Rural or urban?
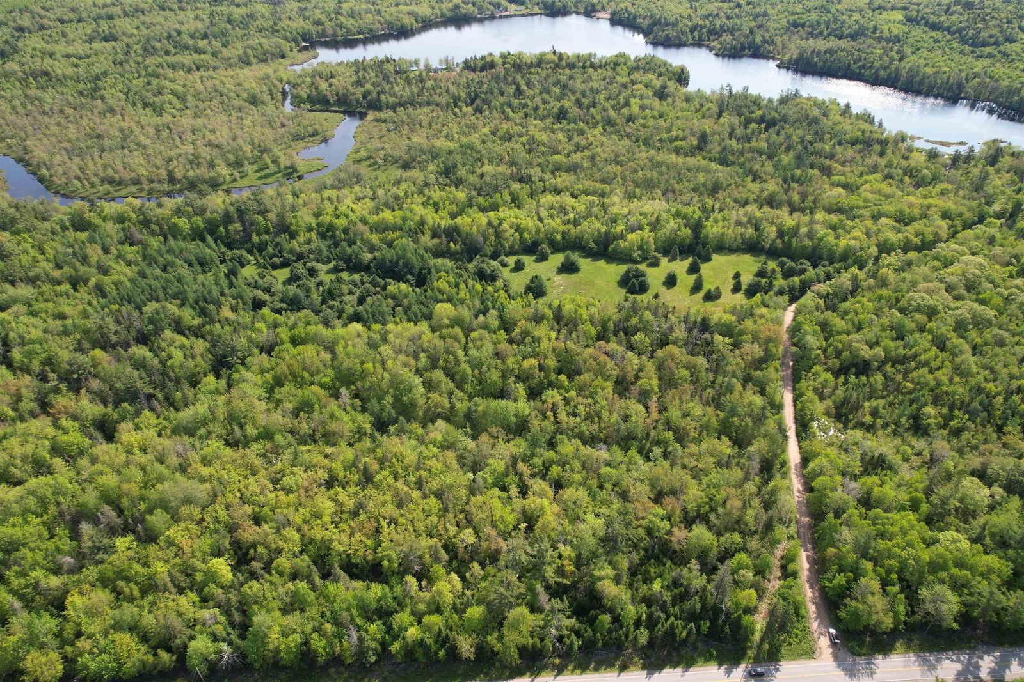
rural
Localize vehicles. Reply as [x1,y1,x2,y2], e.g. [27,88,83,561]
[827,627,842,645]
[749,669,766,678]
